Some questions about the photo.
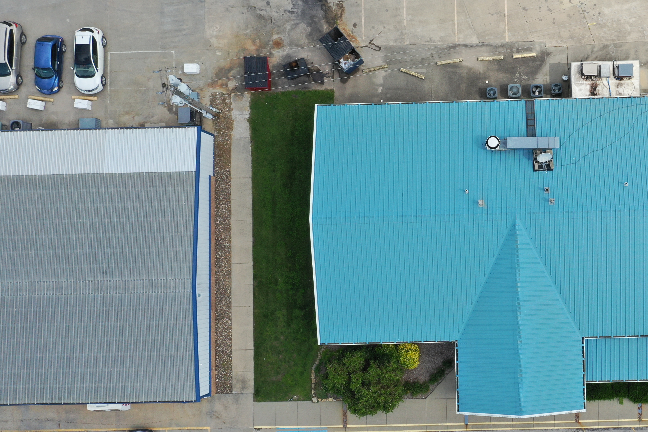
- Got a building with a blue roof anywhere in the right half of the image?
Yes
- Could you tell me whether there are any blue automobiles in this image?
Yes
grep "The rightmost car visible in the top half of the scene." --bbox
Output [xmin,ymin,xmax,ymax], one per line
[69,25,107,95]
